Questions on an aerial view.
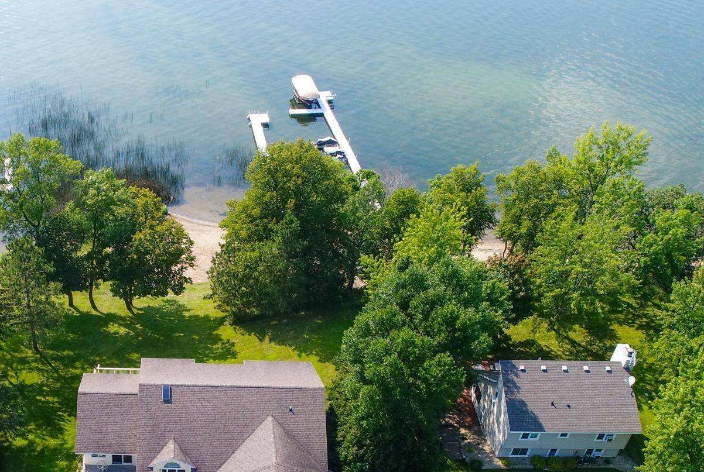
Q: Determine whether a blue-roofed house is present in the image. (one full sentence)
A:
No, there isn't any blue-roofed house down there.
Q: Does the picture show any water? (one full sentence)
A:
Yes, water can be seen from above here.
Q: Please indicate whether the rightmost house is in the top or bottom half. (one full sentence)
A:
The rightmost house sits in the bottom half of the picture.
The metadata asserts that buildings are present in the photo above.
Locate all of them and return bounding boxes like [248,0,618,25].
[473,336,648,458]
[75,359,328,472]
